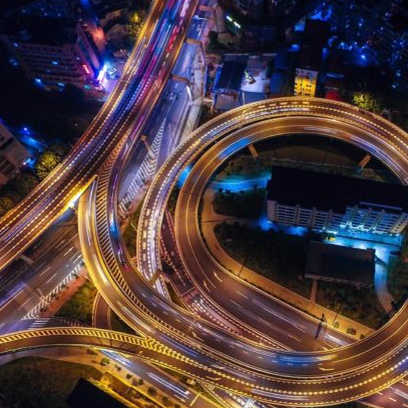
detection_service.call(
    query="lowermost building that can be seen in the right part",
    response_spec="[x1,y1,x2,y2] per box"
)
[305,240,374,291]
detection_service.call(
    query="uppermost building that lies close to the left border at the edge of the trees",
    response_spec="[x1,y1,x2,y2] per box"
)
[0,0,108,72]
